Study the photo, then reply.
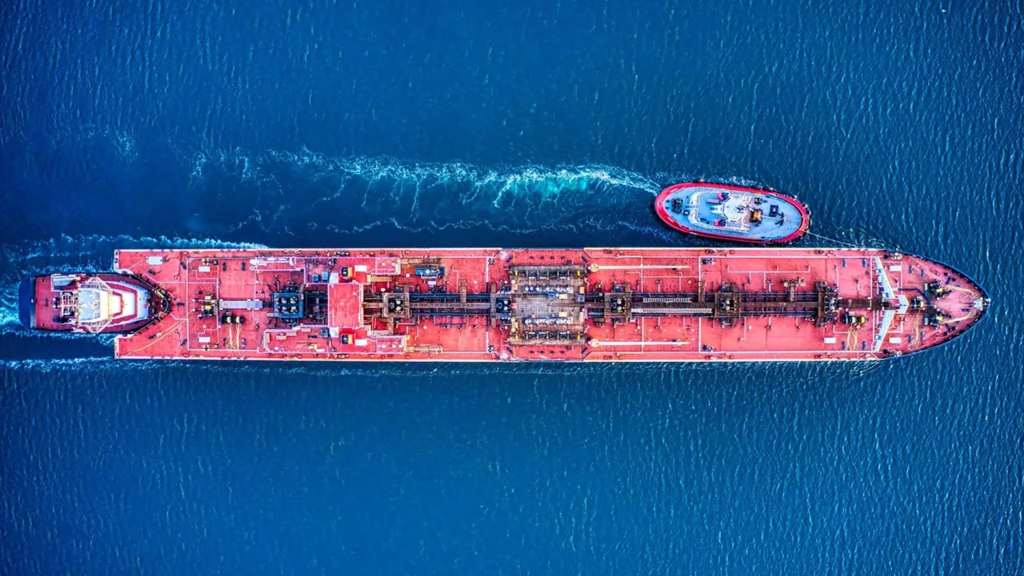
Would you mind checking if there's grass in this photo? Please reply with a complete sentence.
No, the picture contains no grass.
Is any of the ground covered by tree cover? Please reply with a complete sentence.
No, there is no tree cover in the image.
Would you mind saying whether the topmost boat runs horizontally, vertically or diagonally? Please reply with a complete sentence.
The topmost boat runs horizontally in the image.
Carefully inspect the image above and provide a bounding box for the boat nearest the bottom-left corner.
[17,273,166,335]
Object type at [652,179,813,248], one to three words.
boat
